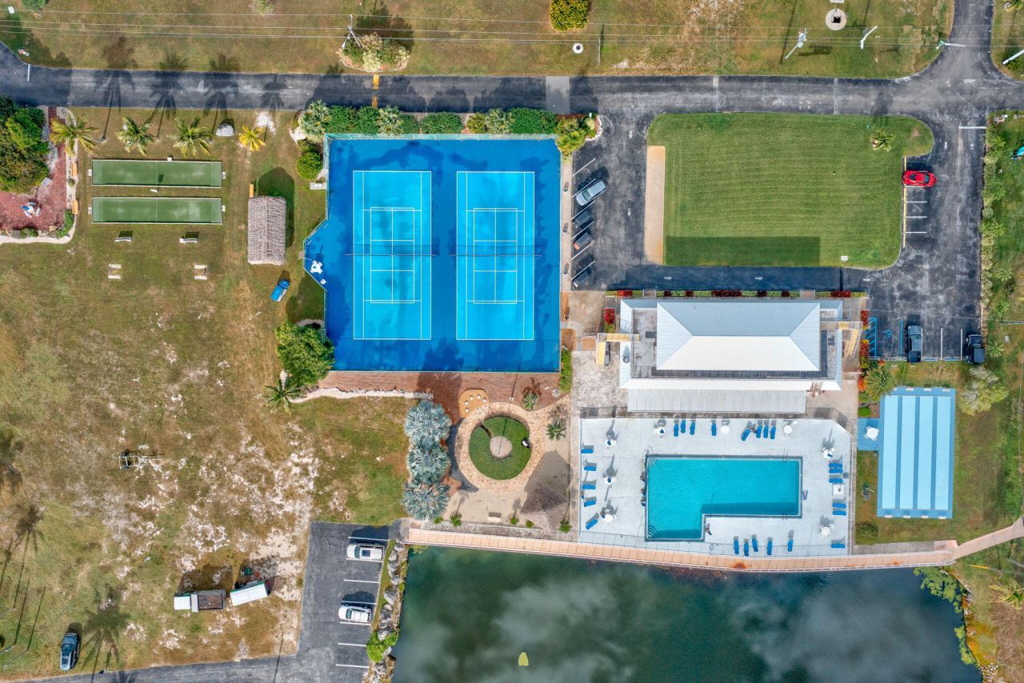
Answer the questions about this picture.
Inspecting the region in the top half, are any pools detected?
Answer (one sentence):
No, I see no pool in the top half.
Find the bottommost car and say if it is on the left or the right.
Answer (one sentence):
You can find the bottommost car on the left side of the picture.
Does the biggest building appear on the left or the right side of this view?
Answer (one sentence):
The biggest building is on the right side of the image.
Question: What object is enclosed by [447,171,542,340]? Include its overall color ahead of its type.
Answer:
blue tennis court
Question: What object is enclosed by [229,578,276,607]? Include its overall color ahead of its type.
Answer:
white trailer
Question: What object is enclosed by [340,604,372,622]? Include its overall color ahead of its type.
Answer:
white car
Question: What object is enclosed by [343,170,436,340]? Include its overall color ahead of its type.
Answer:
blue tennis court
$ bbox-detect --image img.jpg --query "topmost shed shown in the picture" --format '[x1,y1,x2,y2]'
[244,195,294,267]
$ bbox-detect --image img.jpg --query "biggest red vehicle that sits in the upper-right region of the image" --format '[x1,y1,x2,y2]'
[902,169,937,186]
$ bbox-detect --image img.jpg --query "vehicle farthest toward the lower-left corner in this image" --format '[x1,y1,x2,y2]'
[59,633,81,669]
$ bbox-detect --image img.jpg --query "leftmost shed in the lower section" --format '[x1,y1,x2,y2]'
[519,480,569,532]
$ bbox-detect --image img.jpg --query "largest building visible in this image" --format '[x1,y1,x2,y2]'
[619,300,842,414]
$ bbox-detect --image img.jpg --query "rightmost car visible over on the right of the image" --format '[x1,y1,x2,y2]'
[963,333,985,365]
